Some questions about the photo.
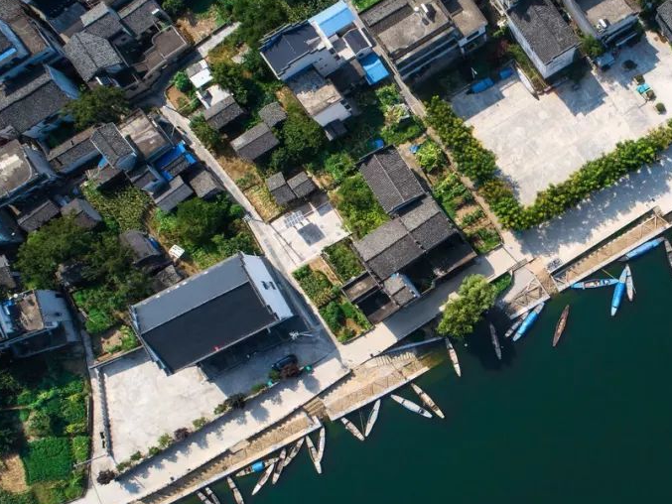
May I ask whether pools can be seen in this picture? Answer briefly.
No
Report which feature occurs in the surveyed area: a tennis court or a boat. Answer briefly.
boat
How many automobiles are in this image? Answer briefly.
one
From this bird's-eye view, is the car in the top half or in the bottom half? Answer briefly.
bottom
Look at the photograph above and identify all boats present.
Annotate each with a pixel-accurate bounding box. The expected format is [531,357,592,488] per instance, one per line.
[411,385,444,418]
[317,428,323,466]
[366,400,380,437]
[227,478,243,504]
[307,437,320,474]
[572,281,619,288]
[666,241,672,264]
[554,306,569,346]
[491,324,501,358]
[619,237,666,260]
[342,418,364,440]
[284,439,305,466]
[252,464,274,495]
[236,459,277,476]
[390,394,431,417]
[506,312,530,336]
[612,266,628,315]
[197,494,209,504]
[446,338,461,376]
[514,302,544,341]
[206,488,219,504]
[628,264,633,301]
[273,450,286,484]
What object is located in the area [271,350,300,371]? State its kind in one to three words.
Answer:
car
